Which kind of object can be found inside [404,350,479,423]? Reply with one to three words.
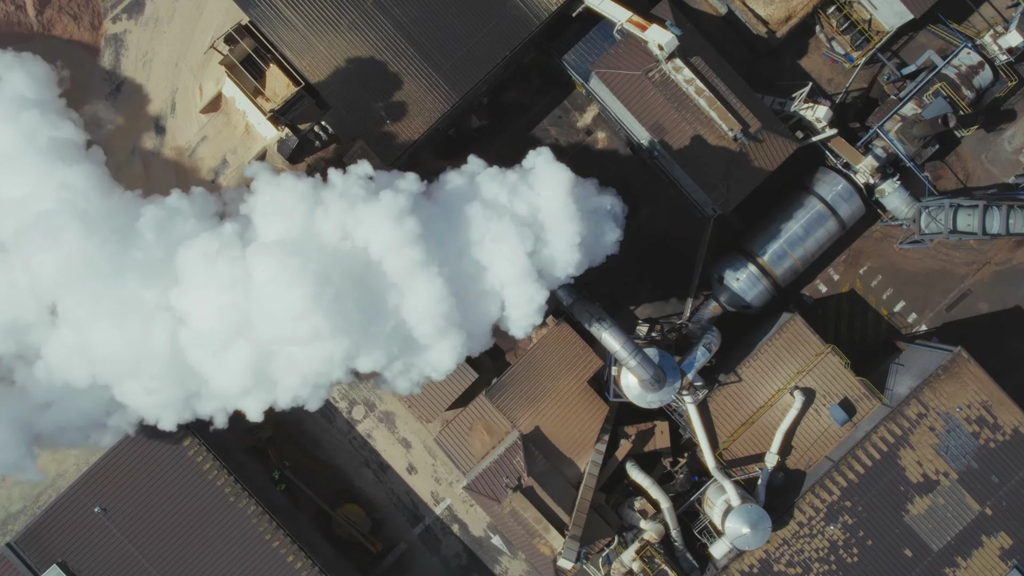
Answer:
building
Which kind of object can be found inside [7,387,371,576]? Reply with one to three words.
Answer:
shed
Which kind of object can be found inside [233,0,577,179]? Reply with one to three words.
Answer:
shed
